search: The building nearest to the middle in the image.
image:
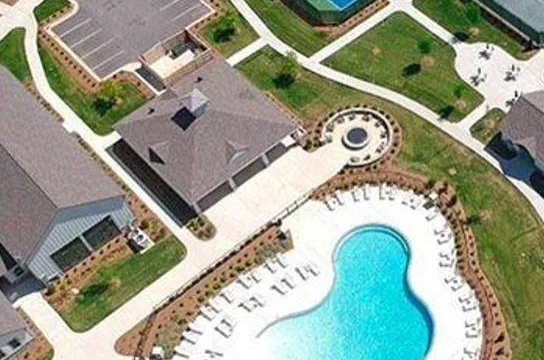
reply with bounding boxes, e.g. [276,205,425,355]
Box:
[112,54,307,218]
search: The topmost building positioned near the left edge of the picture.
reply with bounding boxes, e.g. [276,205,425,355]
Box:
[0,64,138,308]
